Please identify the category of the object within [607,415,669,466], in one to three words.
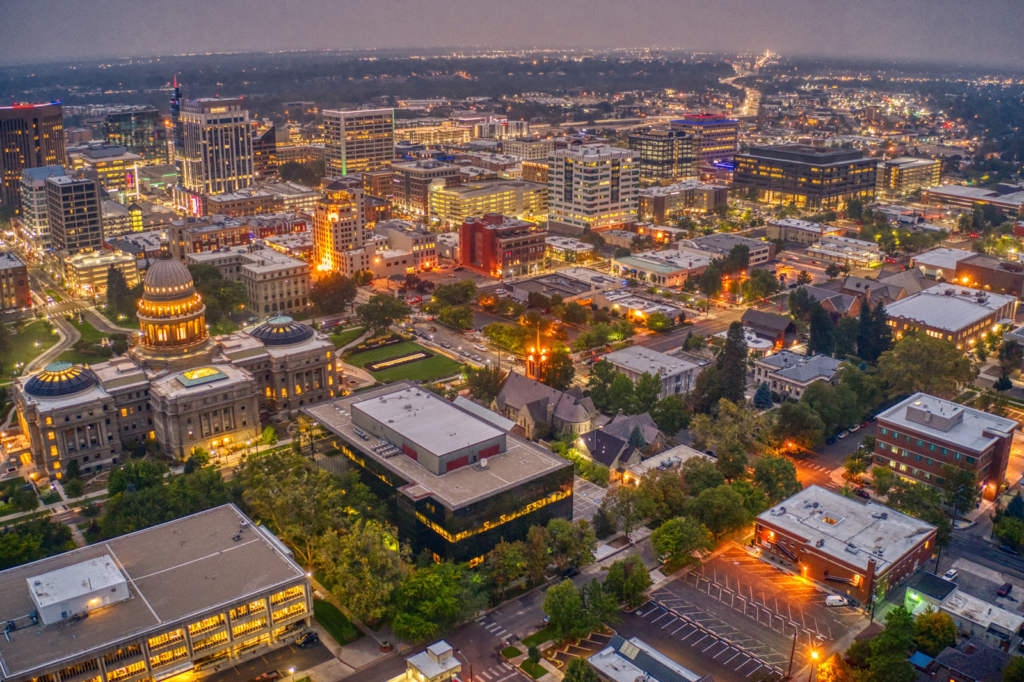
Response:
house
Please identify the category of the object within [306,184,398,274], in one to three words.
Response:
building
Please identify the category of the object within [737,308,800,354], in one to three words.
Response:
building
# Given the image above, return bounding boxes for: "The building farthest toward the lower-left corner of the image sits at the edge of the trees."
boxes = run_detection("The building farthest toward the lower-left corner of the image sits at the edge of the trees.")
[0,497,311,682]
